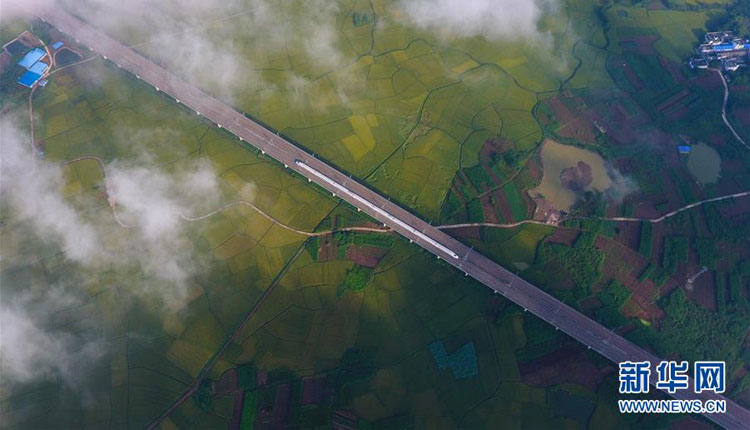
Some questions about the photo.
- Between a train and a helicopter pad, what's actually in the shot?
train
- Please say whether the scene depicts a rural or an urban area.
rural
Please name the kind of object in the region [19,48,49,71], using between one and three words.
shed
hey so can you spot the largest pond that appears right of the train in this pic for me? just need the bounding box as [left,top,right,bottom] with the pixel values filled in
[532,141,609,210]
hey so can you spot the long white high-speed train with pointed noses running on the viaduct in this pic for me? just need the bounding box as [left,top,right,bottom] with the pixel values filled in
[297,161,460,259]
